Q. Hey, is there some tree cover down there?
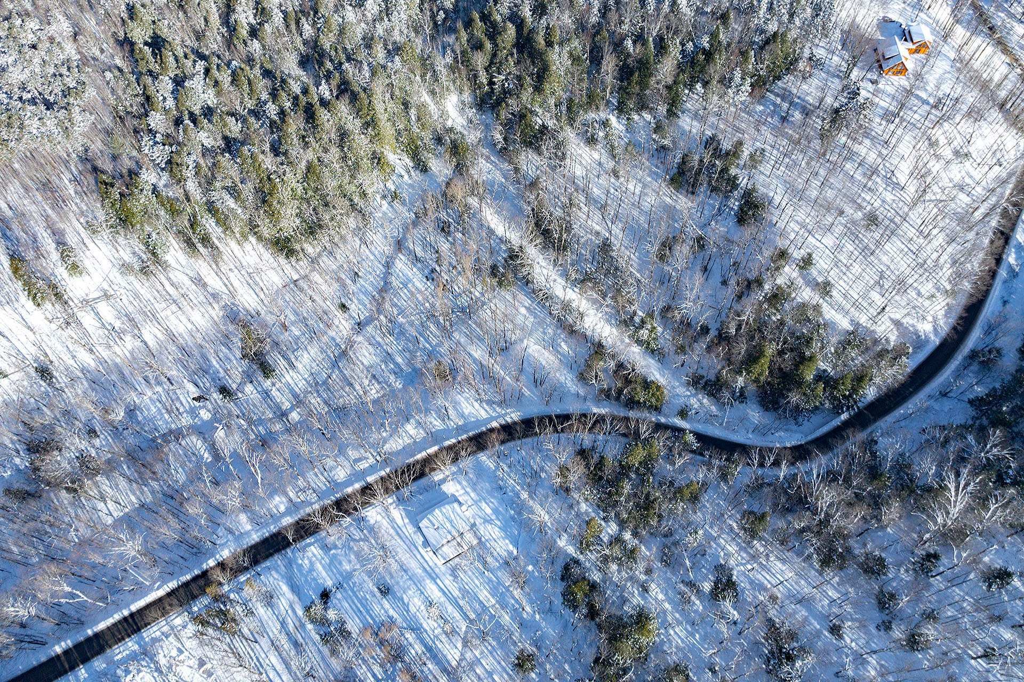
Yes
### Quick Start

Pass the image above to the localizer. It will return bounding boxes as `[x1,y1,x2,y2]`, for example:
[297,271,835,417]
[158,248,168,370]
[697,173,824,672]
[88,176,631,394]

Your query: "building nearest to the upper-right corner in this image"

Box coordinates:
[894,22,935,56]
